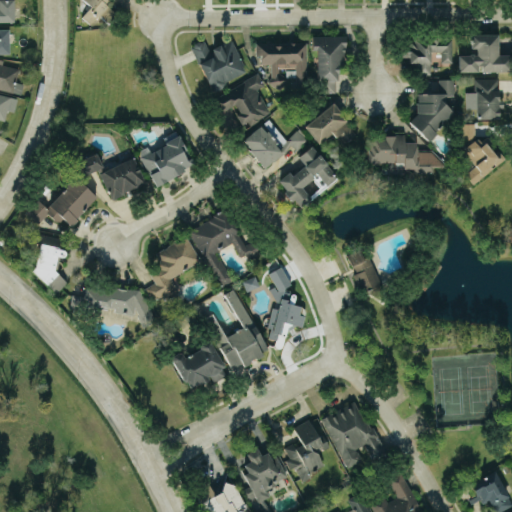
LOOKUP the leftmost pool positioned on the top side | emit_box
[89,133,120,160]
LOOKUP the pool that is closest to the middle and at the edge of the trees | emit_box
[220,244,249,275]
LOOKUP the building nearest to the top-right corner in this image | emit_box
[460,34,511,73]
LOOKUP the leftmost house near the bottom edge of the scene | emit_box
[204,482,250,512]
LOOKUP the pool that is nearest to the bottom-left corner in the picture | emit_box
[99,316,126,340]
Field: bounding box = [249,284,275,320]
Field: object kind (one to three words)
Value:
swimming pool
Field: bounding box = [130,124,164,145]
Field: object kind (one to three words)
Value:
swimming pool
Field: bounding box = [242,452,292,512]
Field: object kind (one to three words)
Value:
house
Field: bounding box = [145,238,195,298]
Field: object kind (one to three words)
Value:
house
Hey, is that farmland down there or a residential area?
residential area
